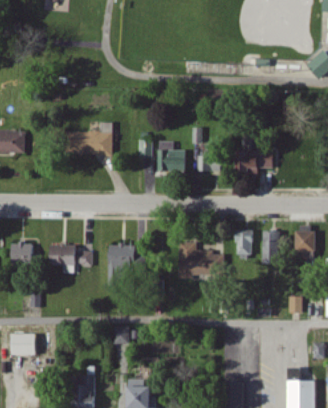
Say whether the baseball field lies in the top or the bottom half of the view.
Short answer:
top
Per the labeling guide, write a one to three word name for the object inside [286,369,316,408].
building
